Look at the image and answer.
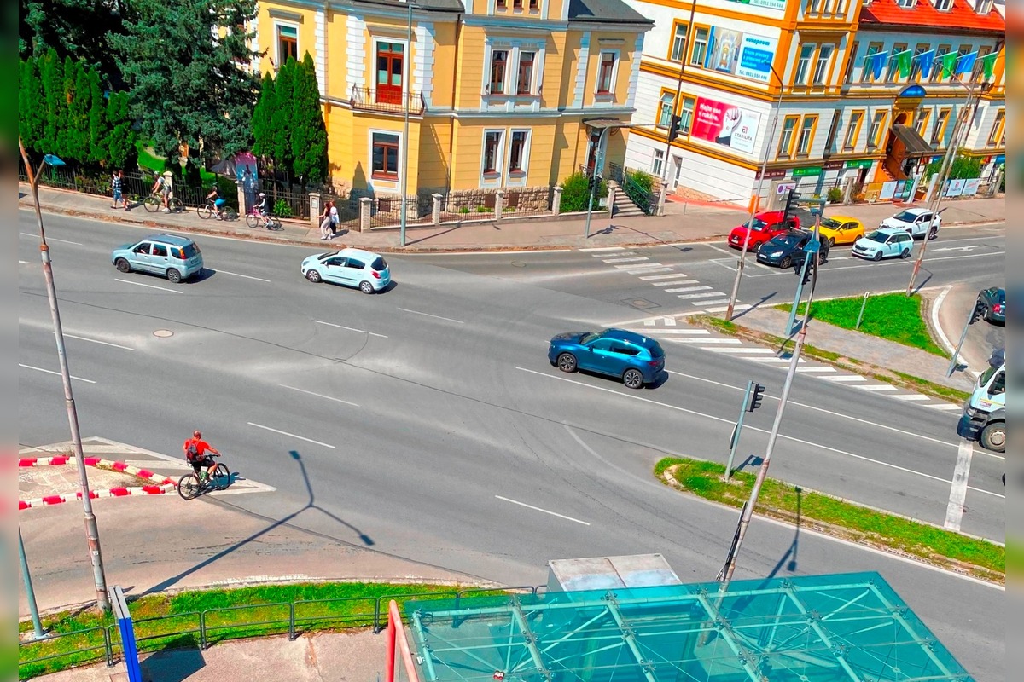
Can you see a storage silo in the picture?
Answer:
No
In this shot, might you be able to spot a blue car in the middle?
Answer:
Yes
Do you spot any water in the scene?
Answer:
No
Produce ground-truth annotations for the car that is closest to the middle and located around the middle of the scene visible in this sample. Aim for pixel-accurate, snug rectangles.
[548,330,666,389]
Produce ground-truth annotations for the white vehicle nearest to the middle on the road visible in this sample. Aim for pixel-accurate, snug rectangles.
[297,247,394,294]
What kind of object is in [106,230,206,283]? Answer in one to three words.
car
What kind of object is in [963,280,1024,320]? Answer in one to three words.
car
